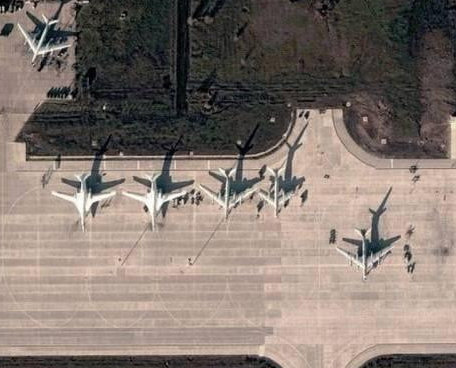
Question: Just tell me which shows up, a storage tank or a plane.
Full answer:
There is a plane in the scene.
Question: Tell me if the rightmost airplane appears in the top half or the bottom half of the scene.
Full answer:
The bottom half of the photo is where the rightmost airplane is.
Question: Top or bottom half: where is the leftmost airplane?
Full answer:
The leftmost airplane sits in the top half of the picture.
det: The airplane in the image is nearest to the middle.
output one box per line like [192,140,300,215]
[198,165,256,220]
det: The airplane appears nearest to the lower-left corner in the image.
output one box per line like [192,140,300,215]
[51,172,114,233]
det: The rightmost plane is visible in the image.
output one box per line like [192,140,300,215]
[335,227,392,281]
